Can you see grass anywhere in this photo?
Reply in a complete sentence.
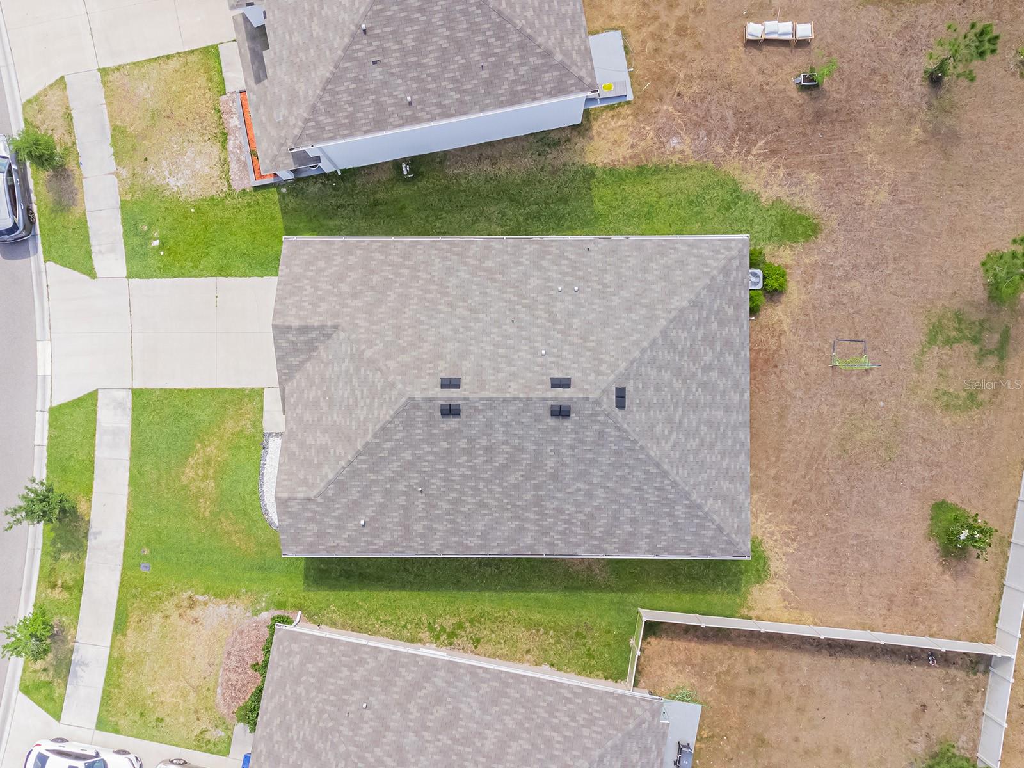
Yes, grass shows up in the scene.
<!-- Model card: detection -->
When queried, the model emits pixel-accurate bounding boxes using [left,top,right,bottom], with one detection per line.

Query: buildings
[228,0,599,177]
[249,604,670,768]
[273,236,751,557]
